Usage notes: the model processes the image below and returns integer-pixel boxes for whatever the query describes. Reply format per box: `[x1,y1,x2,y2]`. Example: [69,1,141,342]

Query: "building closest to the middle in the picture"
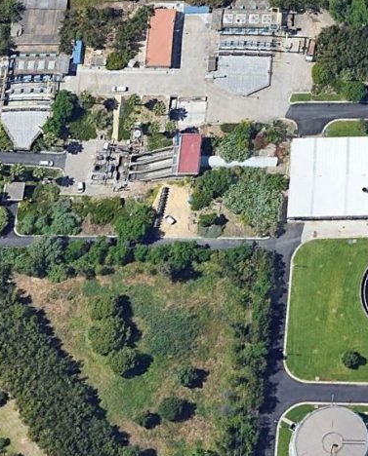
[178,134,204,180]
